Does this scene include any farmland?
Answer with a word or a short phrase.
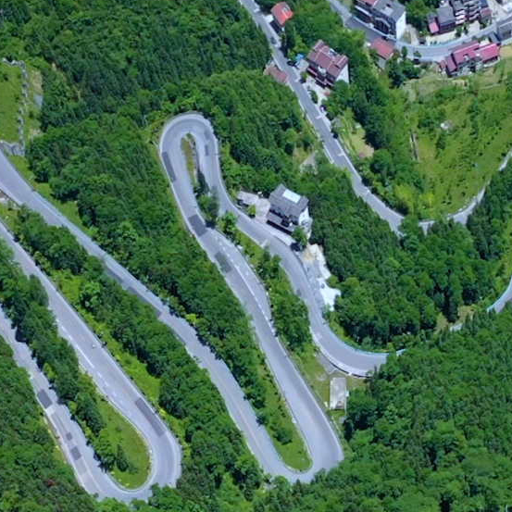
No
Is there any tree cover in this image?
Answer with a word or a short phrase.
Yes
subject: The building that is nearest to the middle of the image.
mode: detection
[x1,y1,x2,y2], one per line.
[261,186,317,237]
